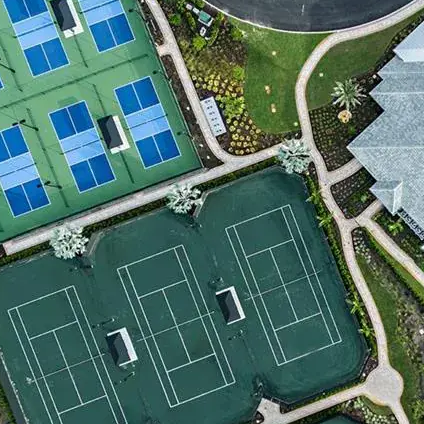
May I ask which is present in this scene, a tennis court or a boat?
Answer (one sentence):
Of the two, only a tennis court appears.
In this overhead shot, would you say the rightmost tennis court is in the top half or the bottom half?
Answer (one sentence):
Seen from above, the rightmost tennis court lies in the bottom half of the view.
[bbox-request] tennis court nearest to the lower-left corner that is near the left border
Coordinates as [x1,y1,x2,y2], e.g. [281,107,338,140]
[6,283,128,424]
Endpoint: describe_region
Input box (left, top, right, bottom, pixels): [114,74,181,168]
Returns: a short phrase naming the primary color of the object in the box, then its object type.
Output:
blue sports court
